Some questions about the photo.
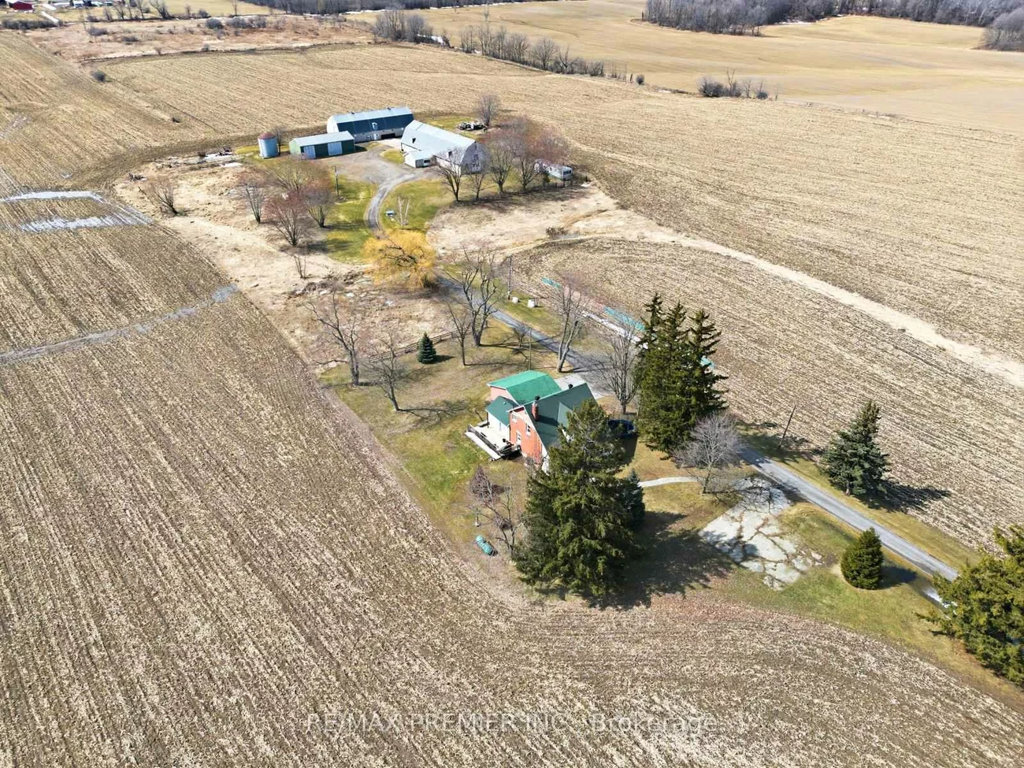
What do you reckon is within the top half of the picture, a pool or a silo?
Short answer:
silo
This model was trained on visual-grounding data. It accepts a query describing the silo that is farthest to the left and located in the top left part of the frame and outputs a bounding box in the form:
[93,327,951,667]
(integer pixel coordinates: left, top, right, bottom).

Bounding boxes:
[257,129,281,157]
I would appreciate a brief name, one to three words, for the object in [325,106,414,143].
barn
